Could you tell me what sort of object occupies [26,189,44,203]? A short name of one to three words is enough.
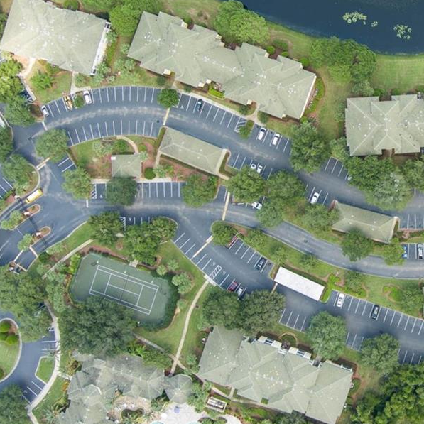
vehicle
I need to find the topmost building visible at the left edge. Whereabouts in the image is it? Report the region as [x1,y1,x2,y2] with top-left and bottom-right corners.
[0,0,112,73]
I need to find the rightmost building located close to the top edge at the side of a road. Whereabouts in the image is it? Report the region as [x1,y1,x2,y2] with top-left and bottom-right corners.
[128,11,316,119]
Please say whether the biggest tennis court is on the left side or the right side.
left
